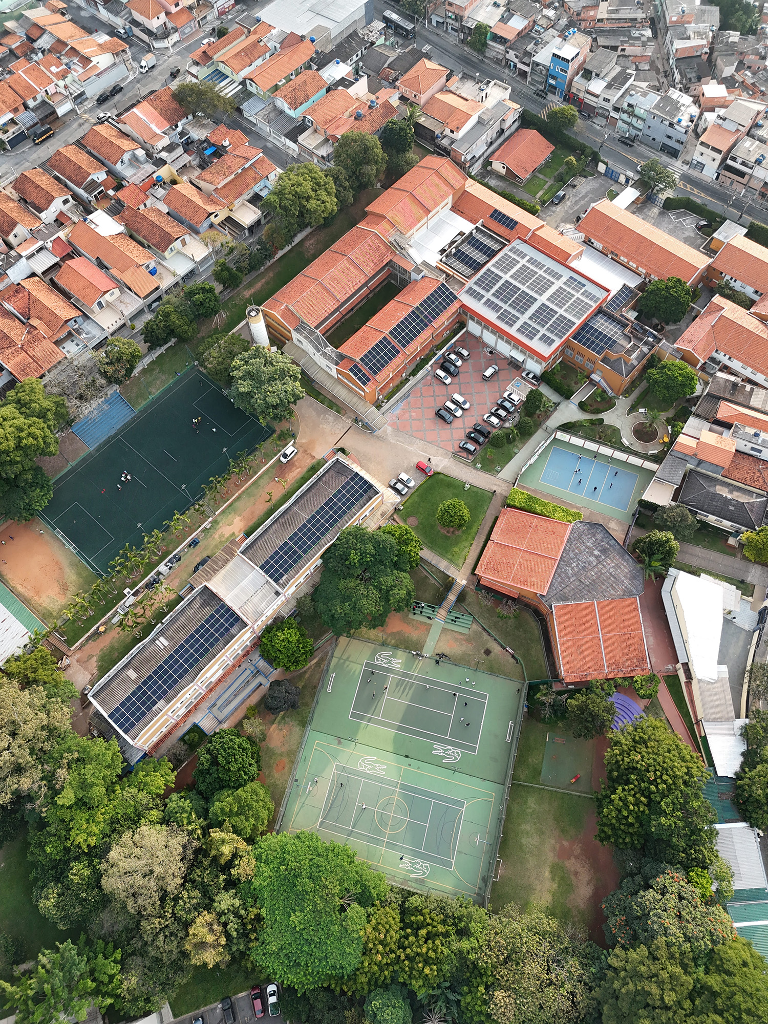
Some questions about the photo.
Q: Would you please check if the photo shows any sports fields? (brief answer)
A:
Yes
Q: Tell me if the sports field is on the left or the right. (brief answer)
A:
left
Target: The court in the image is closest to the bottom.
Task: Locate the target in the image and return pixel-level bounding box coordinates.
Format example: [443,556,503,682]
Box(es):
[276,722,508,895]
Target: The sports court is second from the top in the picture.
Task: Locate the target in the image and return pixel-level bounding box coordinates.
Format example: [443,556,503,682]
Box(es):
[294,636,527,786]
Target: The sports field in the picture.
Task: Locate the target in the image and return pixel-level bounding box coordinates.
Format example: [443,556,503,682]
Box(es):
[36,364,275,580]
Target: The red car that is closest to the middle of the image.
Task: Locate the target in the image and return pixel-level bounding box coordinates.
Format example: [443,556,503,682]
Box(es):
[415,462,434,477]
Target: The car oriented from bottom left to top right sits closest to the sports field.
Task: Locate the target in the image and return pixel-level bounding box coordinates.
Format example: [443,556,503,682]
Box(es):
[280,448,298,463]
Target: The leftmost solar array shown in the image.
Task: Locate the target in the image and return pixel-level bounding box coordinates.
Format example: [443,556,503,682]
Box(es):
[108,604,240,734]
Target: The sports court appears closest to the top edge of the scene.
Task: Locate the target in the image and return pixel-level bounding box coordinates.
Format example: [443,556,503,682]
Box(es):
[519,438,656,524]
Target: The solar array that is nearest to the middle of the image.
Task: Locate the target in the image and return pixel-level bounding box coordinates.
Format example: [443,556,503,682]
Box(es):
[259,472,372,583]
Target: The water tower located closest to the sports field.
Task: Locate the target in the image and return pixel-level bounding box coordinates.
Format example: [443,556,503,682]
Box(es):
[244,306,272,354]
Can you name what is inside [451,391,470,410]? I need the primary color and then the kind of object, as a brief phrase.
white car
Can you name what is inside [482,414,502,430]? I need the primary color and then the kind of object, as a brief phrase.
white car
